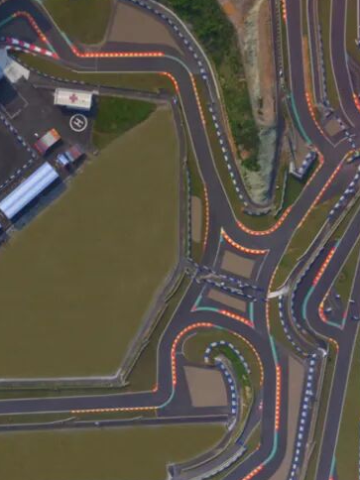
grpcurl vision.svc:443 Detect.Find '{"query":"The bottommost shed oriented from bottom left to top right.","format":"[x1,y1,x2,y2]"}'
[0,163,60,219]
